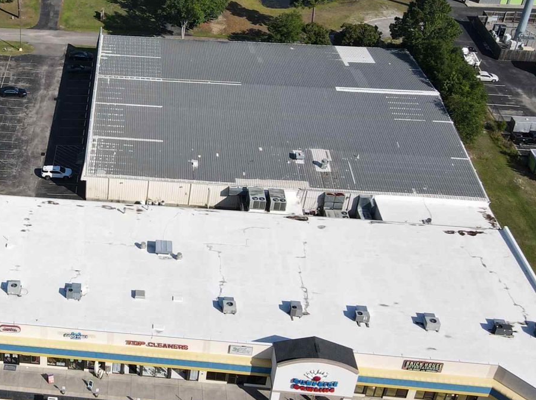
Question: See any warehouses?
Yes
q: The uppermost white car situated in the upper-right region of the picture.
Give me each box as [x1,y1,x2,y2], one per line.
[482,72,502,84]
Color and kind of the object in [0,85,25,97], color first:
black vehicle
